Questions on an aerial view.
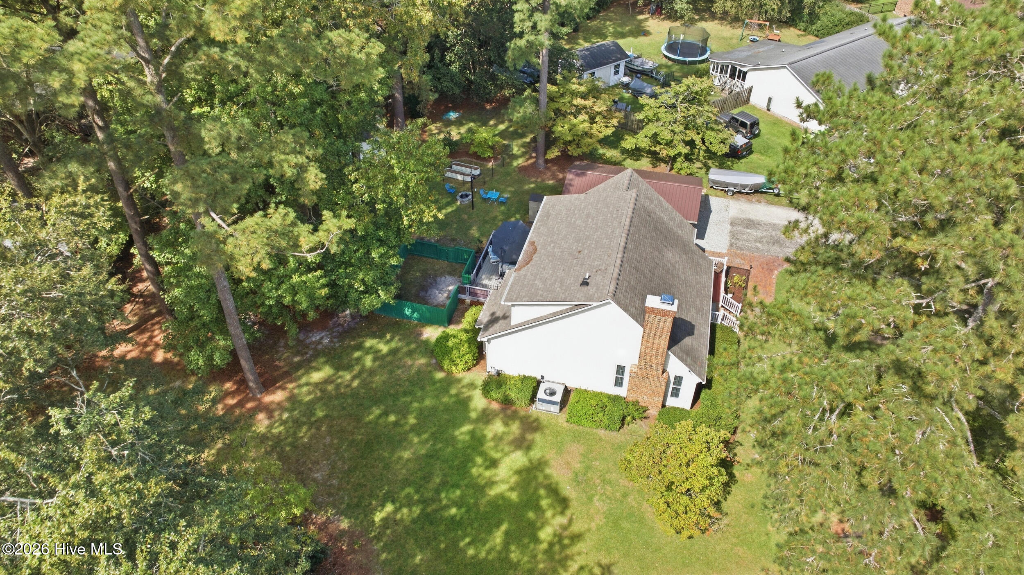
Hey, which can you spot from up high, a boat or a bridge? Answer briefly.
boat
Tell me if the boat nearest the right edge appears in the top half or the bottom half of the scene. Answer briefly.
top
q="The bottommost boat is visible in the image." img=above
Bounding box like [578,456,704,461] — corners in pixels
[708,169,782,189]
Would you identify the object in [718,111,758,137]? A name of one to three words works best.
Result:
car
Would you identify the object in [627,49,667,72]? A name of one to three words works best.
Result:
boat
